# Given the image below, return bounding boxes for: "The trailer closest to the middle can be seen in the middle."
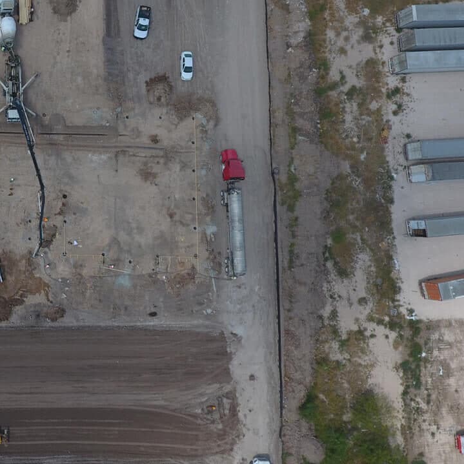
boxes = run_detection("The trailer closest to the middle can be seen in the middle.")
[225,192,247,278]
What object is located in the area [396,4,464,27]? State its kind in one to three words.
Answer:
trailer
